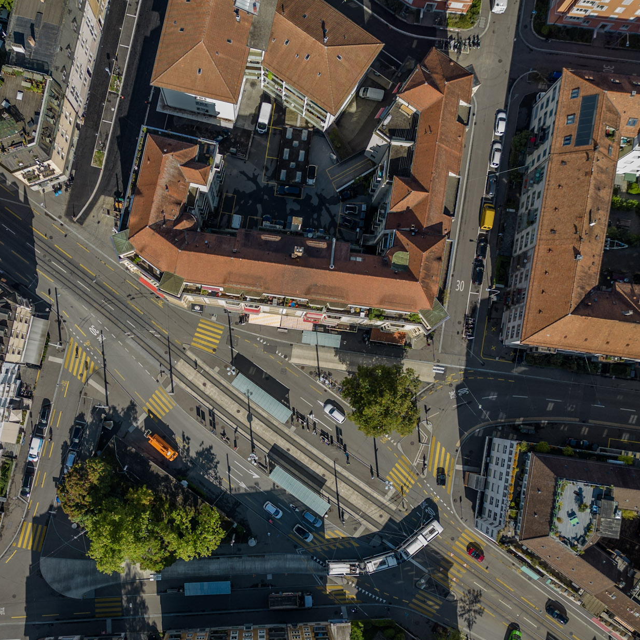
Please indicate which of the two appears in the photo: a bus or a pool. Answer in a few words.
bus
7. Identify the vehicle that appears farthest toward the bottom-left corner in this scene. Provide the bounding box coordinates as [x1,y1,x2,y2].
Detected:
[21,476,33,496]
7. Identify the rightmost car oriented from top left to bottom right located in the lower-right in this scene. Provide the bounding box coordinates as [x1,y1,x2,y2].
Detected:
[545,603,568,624]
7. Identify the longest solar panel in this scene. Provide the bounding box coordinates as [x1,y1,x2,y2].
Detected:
[574,94,599,146]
